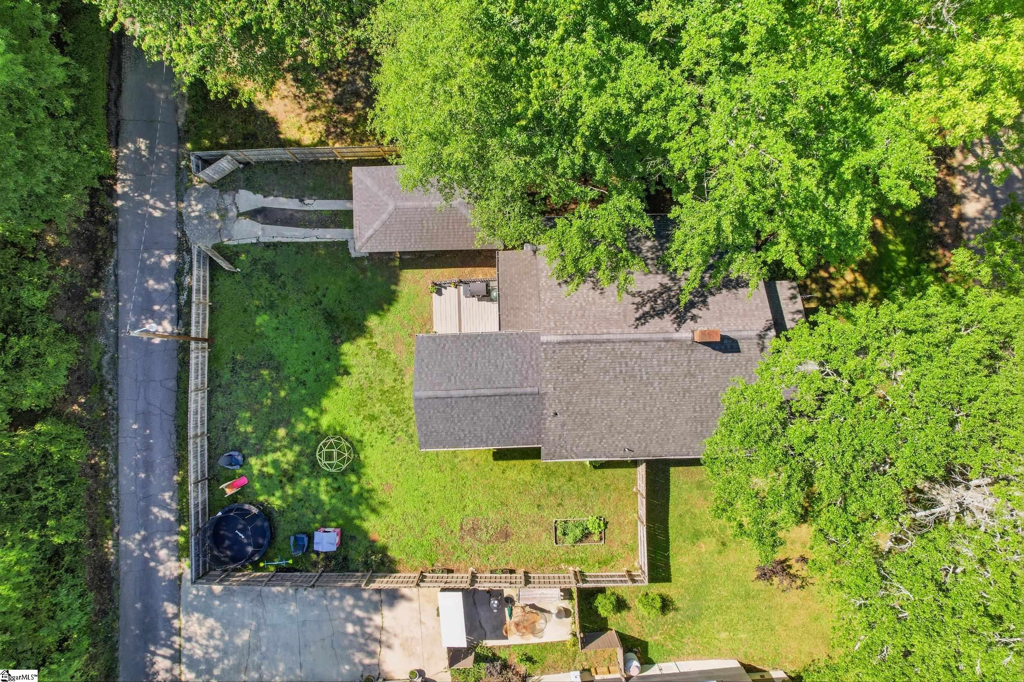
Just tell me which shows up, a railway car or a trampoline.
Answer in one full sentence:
Looking from above, you can make out a trampoline.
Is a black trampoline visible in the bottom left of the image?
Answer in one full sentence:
Yes, in the bottom left of the image there is a black trampoline.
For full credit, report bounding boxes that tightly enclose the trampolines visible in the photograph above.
[202,501,273,571]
